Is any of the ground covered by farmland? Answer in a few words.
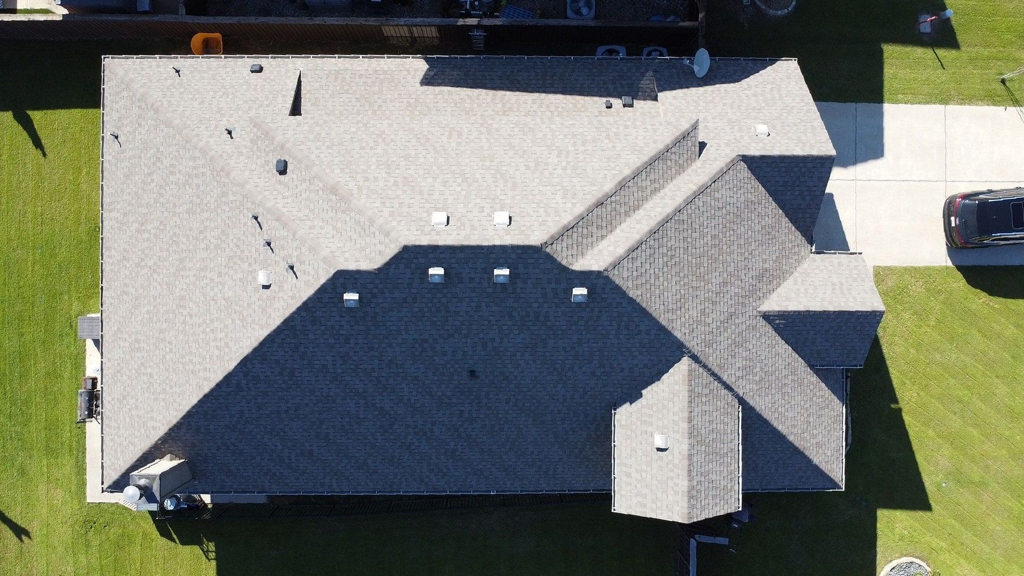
No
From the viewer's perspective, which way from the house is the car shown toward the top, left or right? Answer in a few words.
to its right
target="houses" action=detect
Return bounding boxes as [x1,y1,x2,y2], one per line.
[102,55,886,525]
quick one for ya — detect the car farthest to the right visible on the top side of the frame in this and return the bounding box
[941,184,1024,247]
